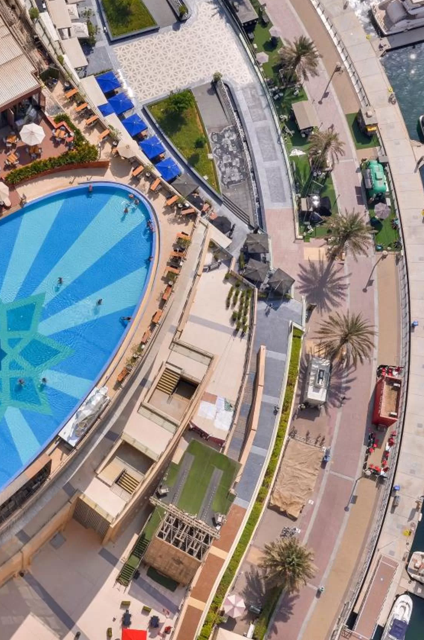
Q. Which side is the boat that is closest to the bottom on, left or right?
right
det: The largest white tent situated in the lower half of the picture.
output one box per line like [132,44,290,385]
[188,392,235,445]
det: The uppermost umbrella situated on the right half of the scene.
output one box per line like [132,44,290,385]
[266,26,283,43]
